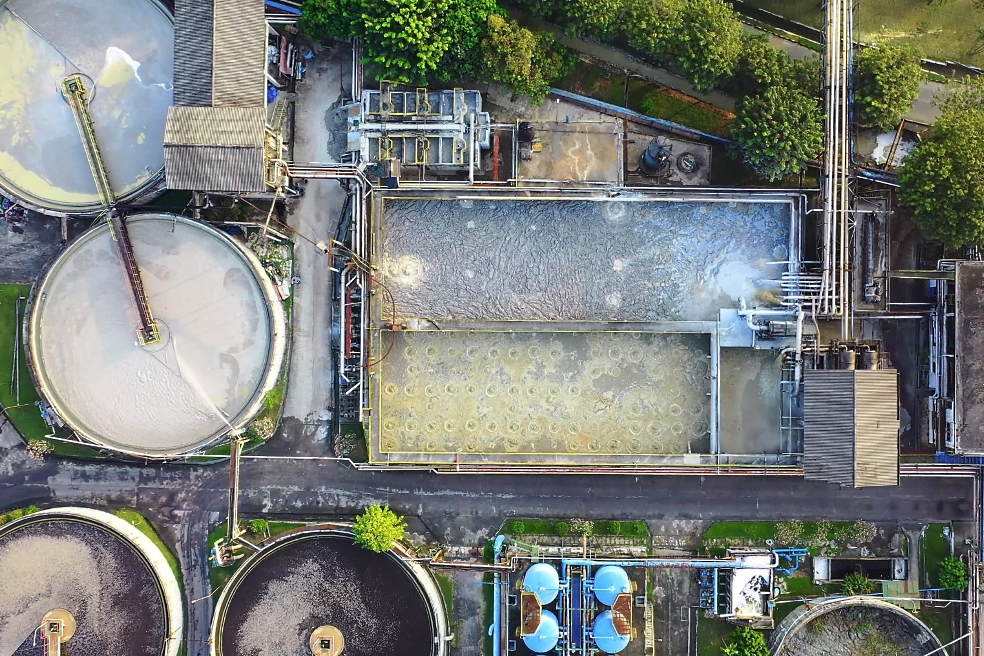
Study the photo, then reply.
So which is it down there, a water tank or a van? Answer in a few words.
water tank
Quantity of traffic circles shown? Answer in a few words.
0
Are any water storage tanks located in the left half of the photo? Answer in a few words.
Yes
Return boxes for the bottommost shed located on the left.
[160,108,273,202]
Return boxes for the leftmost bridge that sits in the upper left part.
[57,71,118,207]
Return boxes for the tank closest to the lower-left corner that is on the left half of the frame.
[0,505,184,656]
